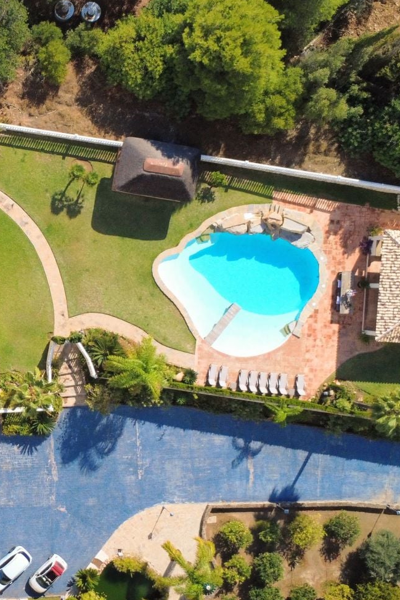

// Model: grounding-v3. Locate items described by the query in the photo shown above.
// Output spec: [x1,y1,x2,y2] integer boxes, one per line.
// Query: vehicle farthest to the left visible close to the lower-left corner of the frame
[0,542,32,593]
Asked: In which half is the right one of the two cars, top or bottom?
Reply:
bottom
